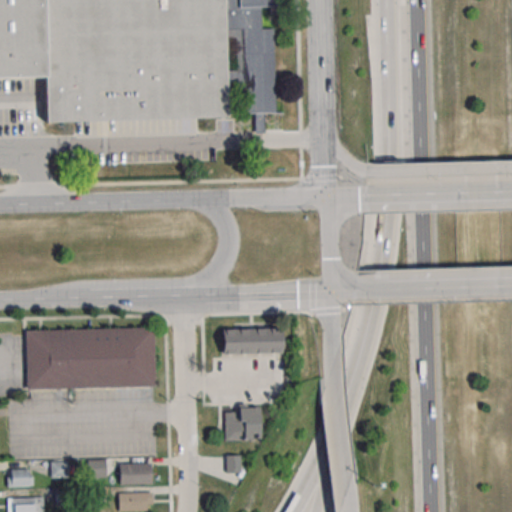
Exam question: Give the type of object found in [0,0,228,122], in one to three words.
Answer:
building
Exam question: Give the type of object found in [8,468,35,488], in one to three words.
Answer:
house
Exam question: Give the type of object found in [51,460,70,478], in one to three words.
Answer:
shed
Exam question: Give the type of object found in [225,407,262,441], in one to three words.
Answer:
house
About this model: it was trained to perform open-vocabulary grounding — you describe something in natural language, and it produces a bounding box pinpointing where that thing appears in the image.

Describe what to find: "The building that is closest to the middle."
[224,328,284,354]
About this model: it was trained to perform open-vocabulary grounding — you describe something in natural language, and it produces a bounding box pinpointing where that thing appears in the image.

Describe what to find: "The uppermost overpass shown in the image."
[363,160,512,213]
